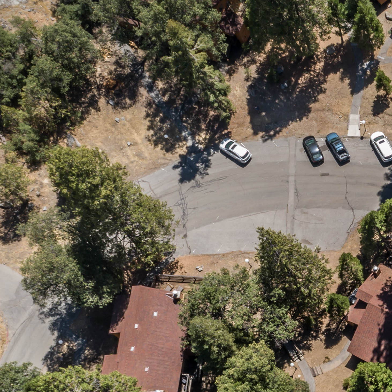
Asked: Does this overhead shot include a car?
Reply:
Yes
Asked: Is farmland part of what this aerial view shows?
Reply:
No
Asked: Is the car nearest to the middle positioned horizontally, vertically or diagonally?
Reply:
diagonally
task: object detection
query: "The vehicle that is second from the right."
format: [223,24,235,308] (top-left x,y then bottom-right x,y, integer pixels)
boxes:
[326,130,351,166]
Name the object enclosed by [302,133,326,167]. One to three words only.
car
